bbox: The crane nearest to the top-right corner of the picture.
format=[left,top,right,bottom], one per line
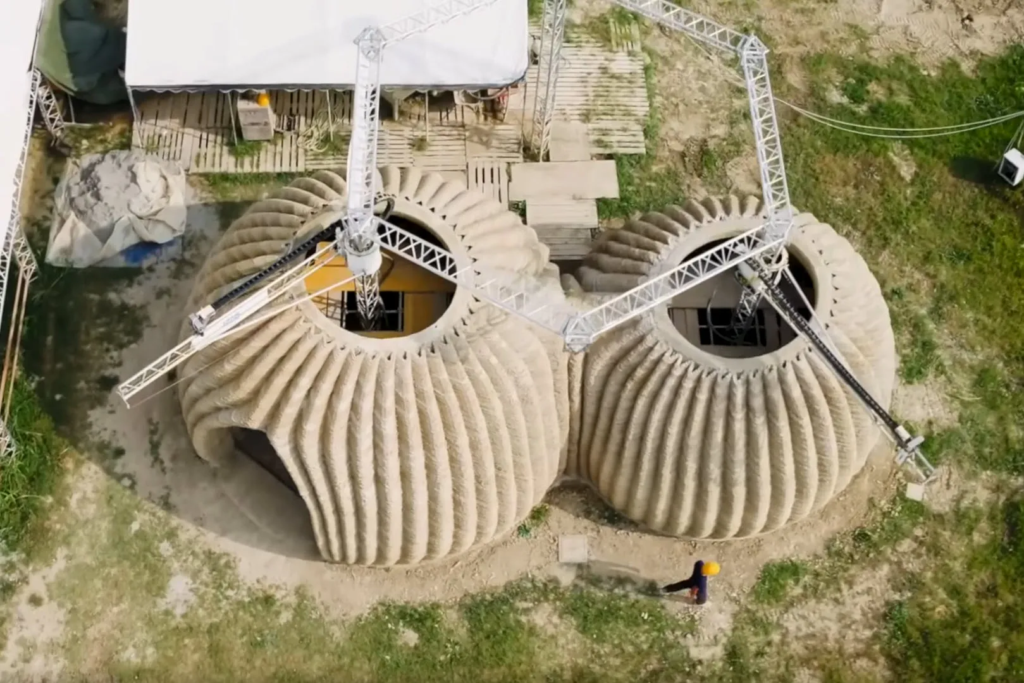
[339,0,795,361]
